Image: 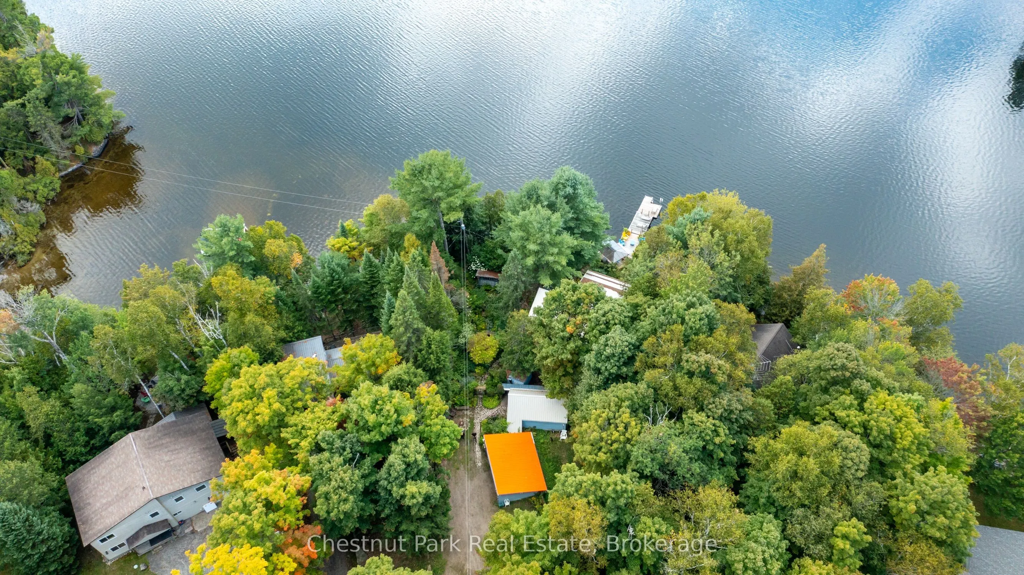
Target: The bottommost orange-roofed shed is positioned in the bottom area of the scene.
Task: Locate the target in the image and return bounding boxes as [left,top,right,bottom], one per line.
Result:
[484,431,547,502]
